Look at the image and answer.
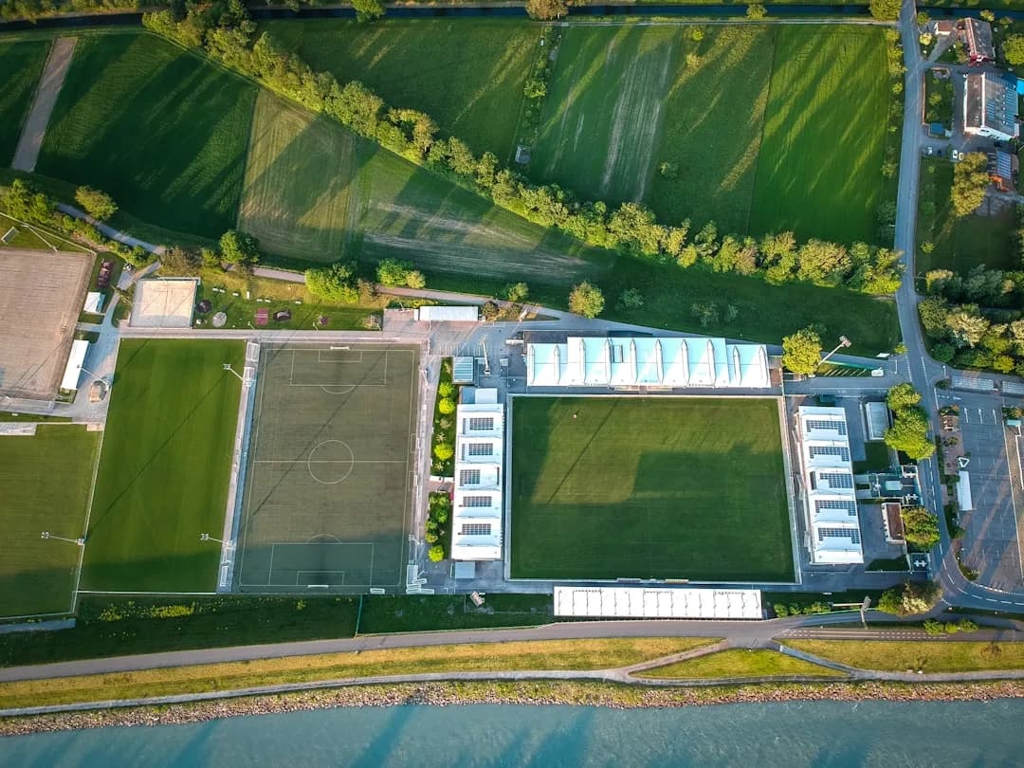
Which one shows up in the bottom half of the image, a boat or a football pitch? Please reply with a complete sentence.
Visible in the bottom half of the image is a football pitch.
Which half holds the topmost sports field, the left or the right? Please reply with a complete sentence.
The topmost sports field is on the left side of the image.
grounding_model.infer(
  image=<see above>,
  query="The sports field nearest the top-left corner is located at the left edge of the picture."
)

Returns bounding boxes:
[0,248,96,401]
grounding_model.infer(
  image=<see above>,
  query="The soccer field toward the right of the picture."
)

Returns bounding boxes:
[505,392,801,583]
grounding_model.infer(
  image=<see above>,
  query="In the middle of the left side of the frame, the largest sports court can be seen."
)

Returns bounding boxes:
[130,278,198,328]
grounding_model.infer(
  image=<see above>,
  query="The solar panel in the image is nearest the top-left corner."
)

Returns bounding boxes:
[456,362,472,378]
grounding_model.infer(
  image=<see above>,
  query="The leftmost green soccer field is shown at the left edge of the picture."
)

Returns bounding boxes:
[0,425,99,621]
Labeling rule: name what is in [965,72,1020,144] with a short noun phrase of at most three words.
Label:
building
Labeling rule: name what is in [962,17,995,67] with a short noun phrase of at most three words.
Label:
house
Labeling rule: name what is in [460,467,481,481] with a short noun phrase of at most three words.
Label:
solar panel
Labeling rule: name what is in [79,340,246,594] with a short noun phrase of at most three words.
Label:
soccer field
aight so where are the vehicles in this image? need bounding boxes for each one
[927,145,934,154]
[952,148,959,158]
[959,151,965,159]
[993,141,1003,146]
[871,368,885,375]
